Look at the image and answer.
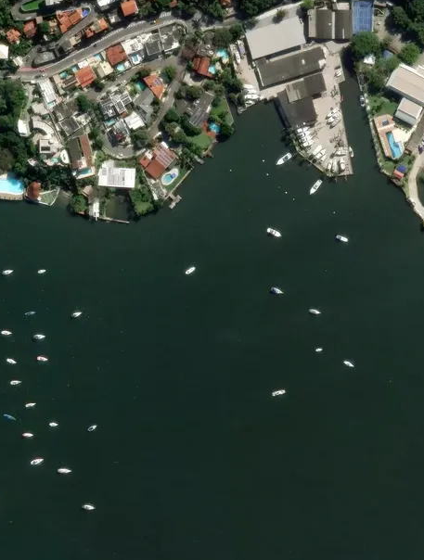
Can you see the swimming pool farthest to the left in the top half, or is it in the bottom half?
top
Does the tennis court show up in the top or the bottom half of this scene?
top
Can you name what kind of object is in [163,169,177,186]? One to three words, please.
swimming pool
